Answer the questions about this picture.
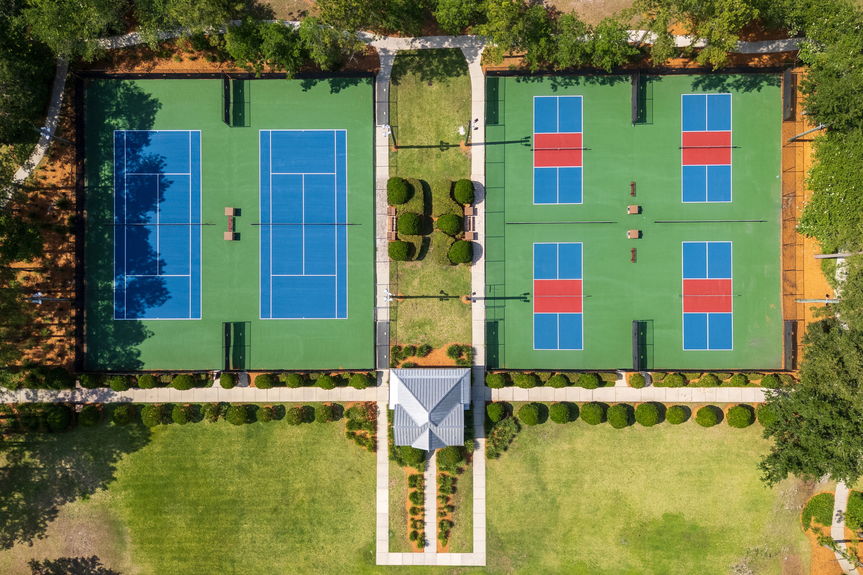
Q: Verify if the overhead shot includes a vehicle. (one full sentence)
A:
No, I can't see a single vehicle in this photo.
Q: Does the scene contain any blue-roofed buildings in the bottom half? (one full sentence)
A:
No, no blue-roofed building can be made out in the bottom half.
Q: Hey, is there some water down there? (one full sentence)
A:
No, water can't be seen anywhere here.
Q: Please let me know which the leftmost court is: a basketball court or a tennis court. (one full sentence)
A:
The leftmost court can be classified as a tennis court.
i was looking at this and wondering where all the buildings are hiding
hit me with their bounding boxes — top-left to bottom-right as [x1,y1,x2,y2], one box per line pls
[388,368,470,451]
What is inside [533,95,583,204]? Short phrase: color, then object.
blue sports court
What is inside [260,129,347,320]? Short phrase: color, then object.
blue tennis court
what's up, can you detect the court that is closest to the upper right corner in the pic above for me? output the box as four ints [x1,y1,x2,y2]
[682,94,732,202]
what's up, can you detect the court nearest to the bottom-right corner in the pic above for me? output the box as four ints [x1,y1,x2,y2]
[683,241,733,351]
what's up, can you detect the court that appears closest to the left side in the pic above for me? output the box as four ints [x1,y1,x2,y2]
[113,130,201,320]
